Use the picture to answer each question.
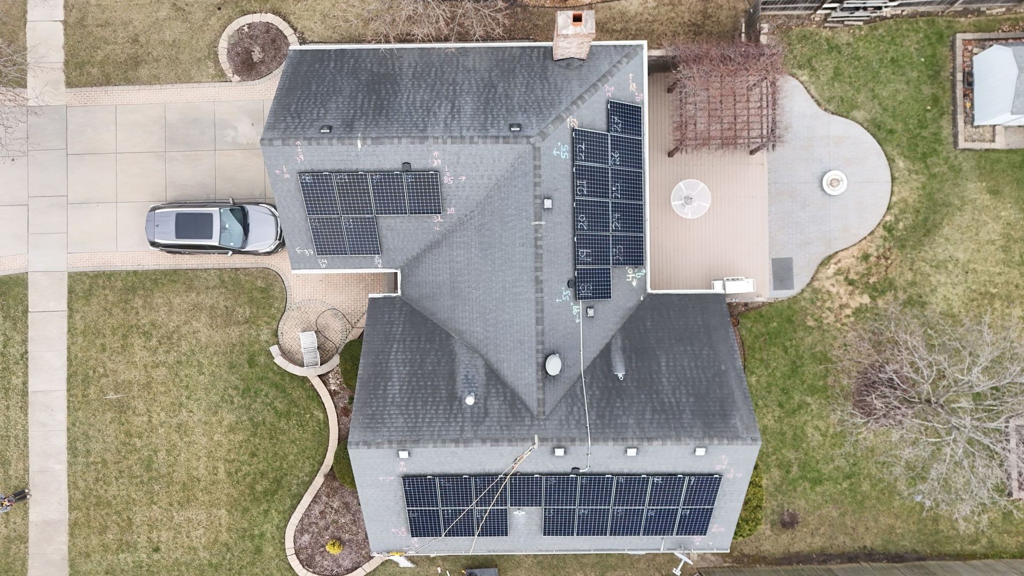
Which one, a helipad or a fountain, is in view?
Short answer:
fountain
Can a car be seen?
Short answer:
Yes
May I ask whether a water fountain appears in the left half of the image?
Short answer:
No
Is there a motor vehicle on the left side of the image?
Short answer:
Yes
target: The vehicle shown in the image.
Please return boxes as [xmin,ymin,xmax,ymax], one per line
[142,195,287,260]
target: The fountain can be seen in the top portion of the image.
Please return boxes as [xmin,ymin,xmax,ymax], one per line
[822,170,848,195]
